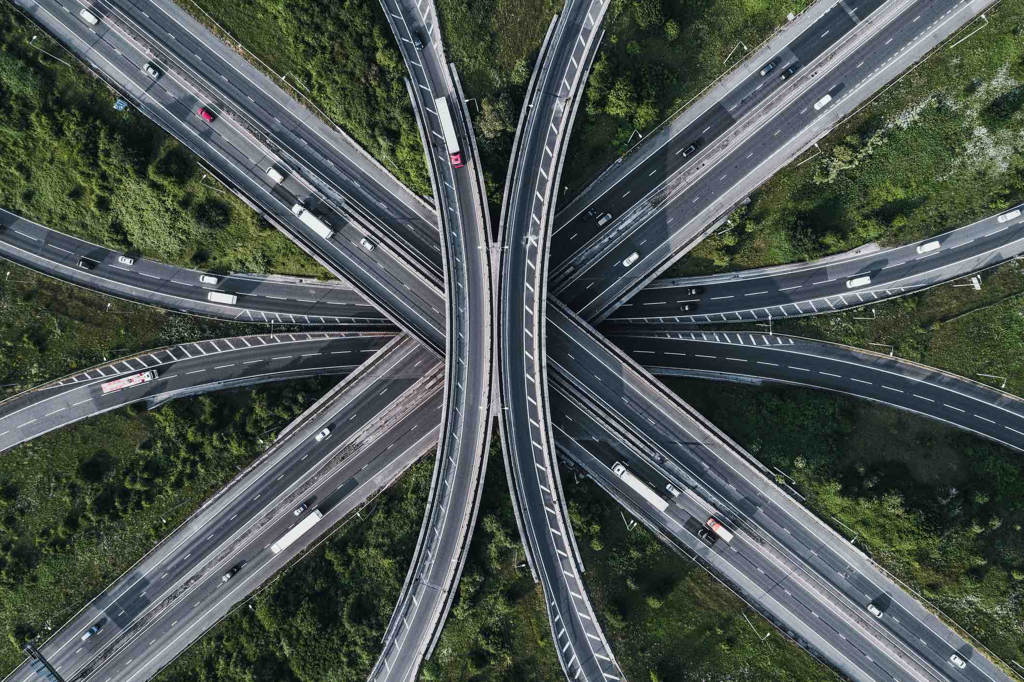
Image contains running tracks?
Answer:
No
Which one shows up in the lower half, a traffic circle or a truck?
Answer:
truck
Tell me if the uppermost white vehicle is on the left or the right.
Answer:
left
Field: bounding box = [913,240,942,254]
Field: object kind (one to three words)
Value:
vehicle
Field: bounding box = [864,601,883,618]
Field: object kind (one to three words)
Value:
car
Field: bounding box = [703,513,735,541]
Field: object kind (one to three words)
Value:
truck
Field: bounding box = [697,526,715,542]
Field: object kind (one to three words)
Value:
car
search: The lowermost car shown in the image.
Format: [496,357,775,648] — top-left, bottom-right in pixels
[947,652,966,669]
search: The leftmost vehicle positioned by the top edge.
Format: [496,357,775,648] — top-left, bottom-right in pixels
[81,9,104,30]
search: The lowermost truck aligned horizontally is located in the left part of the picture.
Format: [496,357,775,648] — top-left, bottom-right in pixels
[99,369,163,393]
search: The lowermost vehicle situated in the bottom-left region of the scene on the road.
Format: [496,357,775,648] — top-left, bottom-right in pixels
[82,622,101,640]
